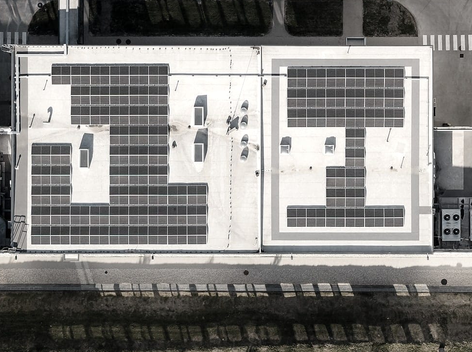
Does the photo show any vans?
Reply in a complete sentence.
No, there's no van here.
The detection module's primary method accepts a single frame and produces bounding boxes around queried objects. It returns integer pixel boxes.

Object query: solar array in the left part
[32,66,207,246]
